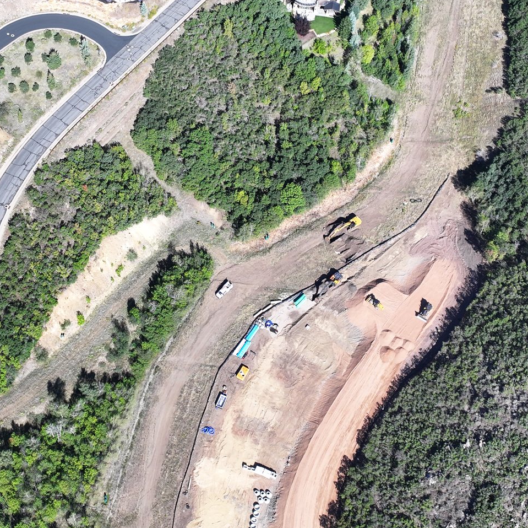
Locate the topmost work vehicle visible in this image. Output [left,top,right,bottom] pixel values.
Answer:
[328,211,367,239]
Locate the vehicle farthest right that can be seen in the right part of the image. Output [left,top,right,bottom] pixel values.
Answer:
[416,302,432,321]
